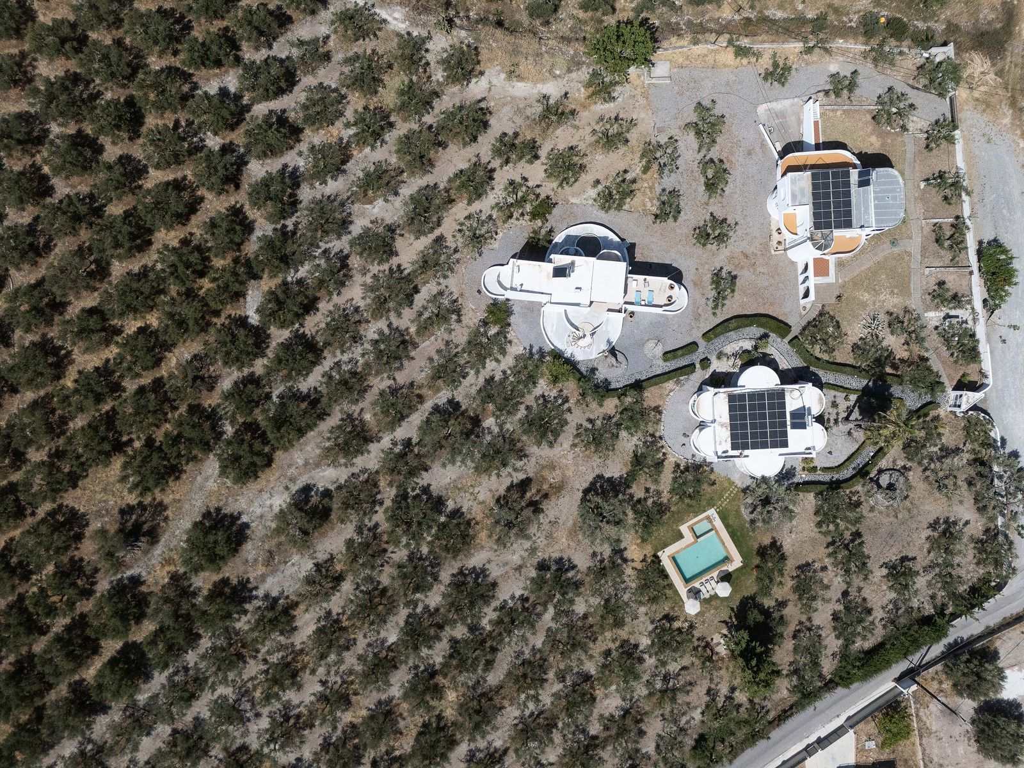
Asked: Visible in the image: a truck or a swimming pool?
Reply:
swimming pool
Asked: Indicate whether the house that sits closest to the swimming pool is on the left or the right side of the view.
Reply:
right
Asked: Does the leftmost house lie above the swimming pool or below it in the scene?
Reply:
above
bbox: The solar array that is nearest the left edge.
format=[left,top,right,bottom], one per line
[728,392,788,450]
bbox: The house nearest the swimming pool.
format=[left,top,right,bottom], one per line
[687,364,827,478]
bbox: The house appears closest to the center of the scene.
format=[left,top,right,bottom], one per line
[482,223,688,360]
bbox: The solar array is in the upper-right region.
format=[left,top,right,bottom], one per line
[812,169,854,229]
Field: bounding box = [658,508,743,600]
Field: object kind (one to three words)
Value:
swimming pool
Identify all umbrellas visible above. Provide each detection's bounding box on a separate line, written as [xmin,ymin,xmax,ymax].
[716,581,731,597]
[684,598,700,614]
